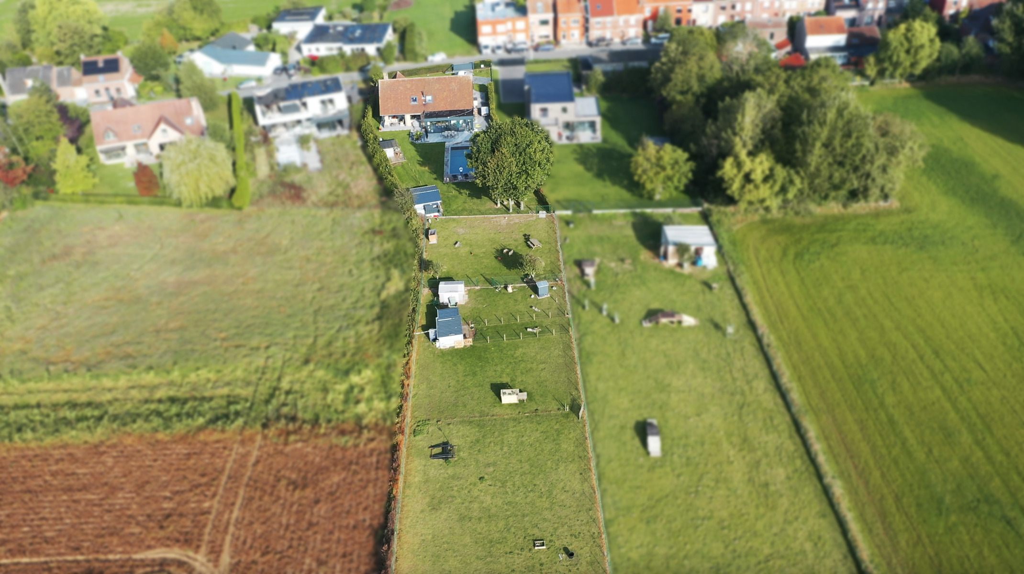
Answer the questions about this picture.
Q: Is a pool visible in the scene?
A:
Yes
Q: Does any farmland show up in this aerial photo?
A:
Yes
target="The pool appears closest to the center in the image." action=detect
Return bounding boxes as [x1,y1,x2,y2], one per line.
[440,141,473,181]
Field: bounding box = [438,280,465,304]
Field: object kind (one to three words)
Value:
shed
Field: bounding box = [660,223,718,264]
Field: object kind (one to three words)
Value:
building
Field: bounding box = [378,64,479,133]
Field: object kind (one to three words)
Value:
house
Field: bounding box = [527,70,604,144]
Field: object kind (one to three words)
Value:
house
